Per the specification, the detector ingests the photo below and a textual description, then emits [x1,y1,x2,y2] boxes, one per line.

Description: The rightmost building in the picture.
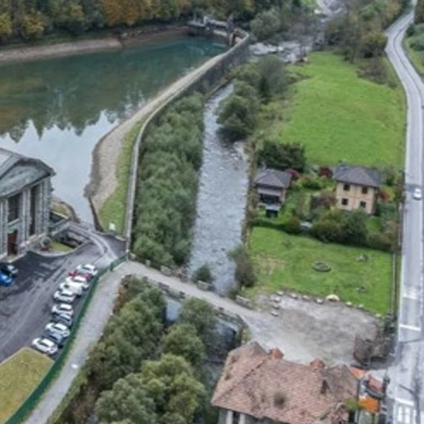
[338,162,383,208]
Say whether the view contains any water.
Yes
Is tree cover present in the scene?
Yes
